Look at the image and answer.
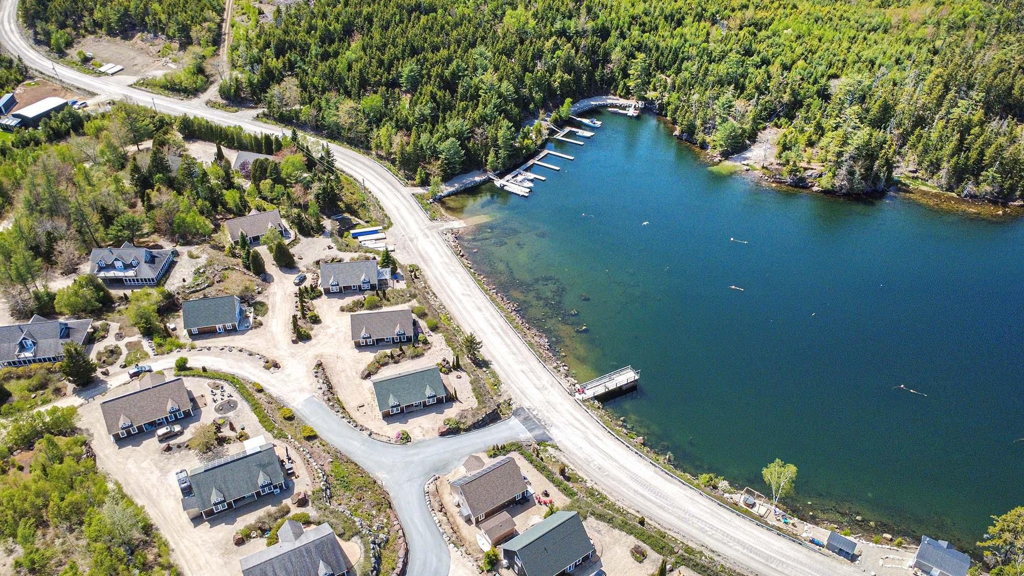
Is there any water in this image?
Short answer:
Yes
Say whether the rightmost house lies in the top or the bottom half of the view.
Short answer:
bottom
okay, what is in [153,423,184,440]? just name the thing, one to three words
car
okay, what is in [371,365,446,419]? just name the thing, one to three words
house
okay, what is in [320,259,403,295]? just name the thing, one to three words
house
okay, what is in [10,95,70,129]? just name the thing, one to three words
barn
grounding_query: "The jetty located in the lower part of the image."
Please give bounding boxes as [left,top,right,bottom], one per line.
[574,363,645,403]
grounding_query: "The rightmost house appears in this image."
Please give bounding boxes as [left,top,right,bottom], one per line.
[909,530,970,576]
